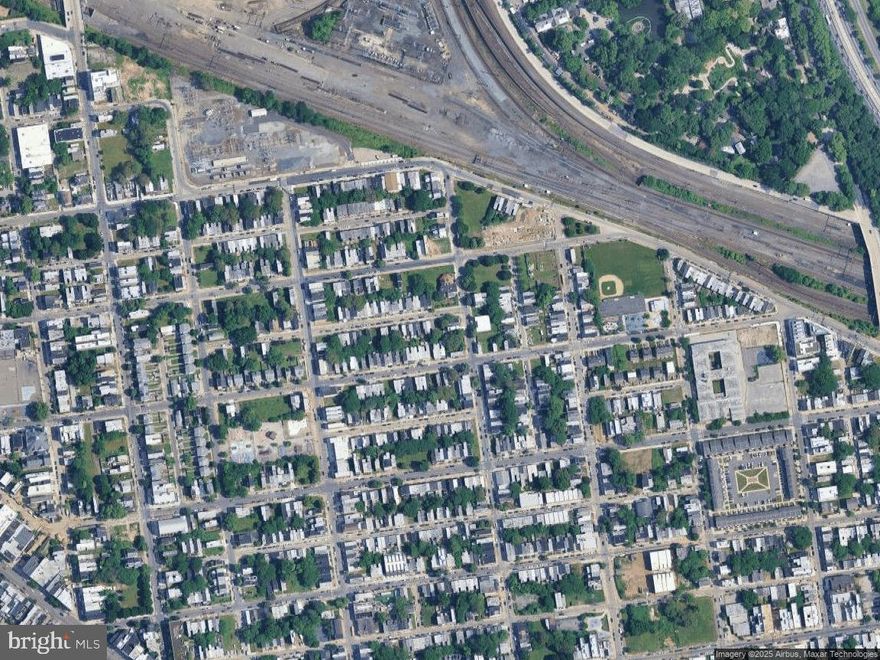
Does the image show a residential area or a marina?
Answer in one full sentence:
This image shows a residential area.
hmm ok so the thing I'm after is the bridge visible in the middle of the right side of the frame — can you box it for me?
[852,201,880,348]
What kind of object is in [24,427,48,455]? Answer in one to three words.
house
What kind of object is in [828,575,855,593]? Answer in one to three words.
building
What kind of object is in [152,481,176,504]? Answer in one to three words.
building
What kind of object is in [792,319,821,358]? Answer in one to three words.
house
